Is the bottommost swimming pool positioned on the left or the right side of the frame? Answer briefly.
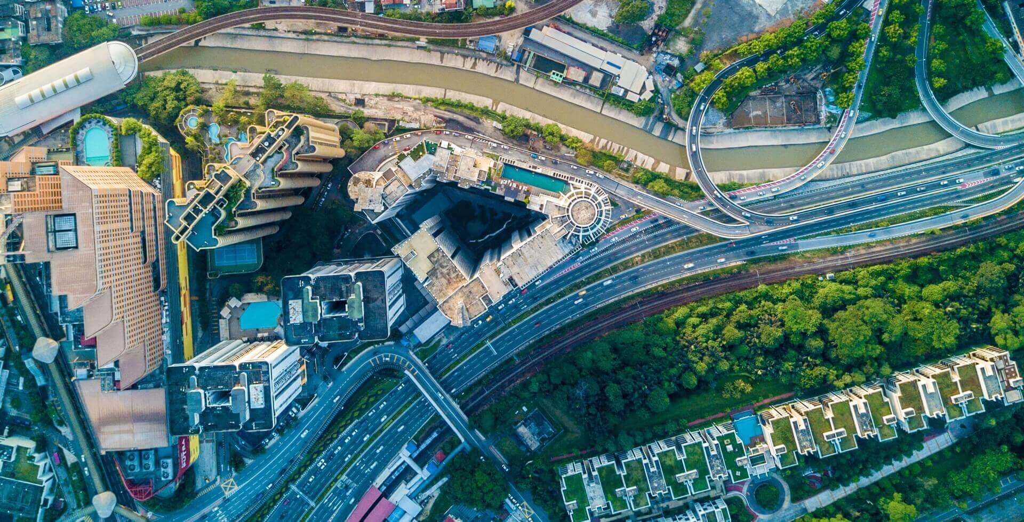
right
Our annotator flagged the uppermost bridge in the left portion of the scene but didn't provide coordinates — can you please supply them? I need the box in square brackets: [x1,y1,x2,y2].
[134,0,585,62]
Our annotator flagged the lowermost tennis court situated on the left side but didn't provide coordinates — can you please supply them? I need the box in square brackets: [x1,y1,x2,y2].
[208,238,263,278]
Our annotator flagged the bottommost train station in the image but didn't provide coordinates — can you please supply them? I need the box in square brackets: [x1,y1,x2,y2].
[344,441,469,522]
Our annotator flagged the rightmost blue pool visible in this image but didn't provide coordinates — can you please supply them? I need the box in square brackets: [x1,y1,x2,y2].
[731,409,762,445]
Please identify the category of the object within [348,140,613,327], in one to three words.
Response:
building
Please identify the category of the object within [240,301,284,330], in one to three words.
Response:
swimming pool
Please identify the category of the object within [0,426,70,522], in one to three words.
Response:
building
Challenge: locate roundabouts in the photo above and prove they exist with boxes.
[744,475,791,518]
